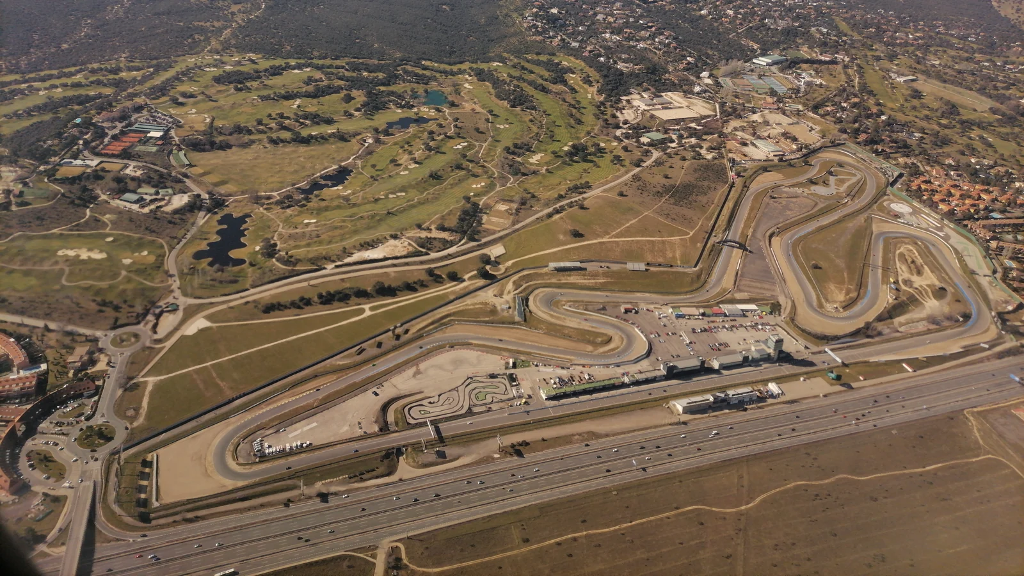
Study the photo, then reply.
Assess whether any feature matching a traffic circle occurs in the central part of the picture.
No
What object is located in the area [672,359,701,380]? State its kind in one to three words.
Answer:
building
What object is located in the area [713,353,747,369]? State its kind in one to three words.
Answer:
building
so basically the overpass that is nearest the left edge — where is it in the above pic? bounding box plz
[57,465,101,576]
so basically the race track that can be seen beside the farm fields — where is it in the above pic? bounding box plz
[210,158,990,481]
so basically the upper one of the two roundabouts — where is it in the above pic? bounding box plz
[96,324,154,356]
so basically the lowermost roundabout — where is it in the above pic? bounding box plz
[58,413,133,460]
